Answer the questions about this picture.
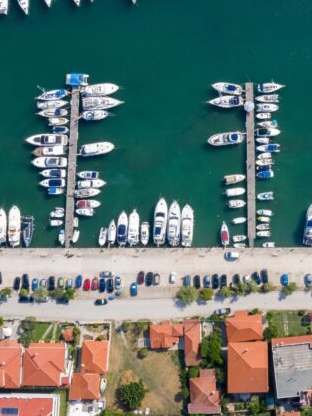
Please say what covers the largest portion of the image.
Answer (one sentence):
Most of the picture is covered by water.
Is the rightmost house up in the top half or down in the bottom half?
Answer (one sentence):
Seen from above, the rightmost house lies in the bottom half of the view.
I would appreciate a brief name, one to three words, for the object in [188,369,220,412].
house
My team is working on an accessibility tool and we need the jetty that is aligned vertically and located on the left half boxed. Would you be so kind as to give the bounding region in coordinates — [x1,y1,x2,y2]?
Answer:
[64,87,79,248]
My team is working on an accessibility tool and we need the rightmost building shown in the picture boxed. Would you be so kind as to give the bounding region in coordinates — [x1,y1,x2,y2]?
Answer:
[272,334,312,403]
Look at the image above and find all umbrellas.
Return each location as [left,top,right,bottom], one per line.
[244,102,254,112]
[4,327,13,336]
